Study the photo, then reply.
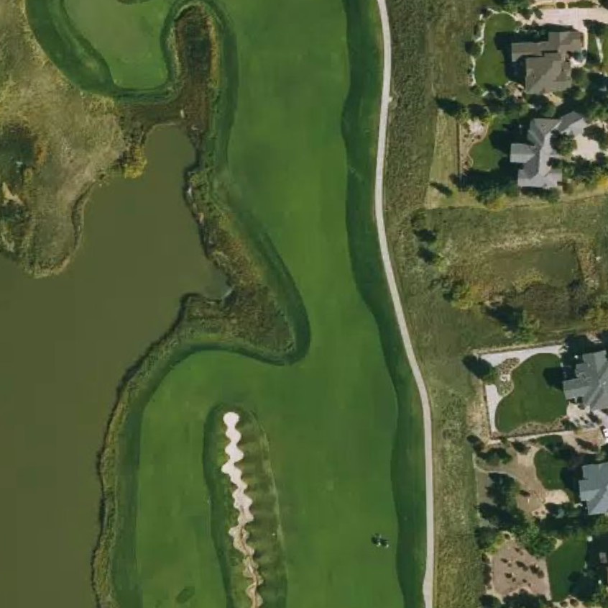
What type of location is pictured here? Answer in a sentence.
This image shows a golf course.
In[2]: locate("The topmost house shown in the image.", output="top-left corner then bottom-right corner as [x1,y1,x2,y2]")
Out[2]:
[514,29,586,92]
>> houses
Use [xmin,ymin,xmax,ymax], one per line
[581,452,608,517]
[565,352,608,412]
[512,107,591,185]
[514,29,586,92]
